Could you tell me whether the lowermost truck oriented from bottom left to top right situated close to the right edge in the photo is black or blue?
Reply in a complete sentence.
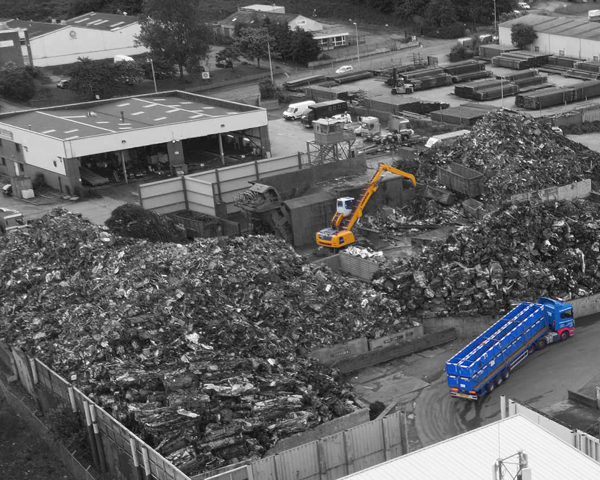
The lowermost truck oriented from bottom left to top right situated close to the right edge is blue.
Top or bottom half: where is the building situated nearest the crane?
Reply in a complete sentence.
The building situated nearest the crane sits in the top half of the picture.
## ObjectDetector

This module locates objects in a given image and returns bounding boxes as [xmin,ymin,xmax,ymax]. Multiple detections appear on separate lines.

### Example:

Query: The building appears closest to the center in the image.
[305,123,346,168]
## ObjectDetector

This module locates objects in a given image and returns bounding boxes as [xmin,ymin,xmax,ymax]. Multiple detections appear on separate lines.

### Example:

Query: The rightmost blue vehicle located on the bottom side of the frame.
[447,303,575,403]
